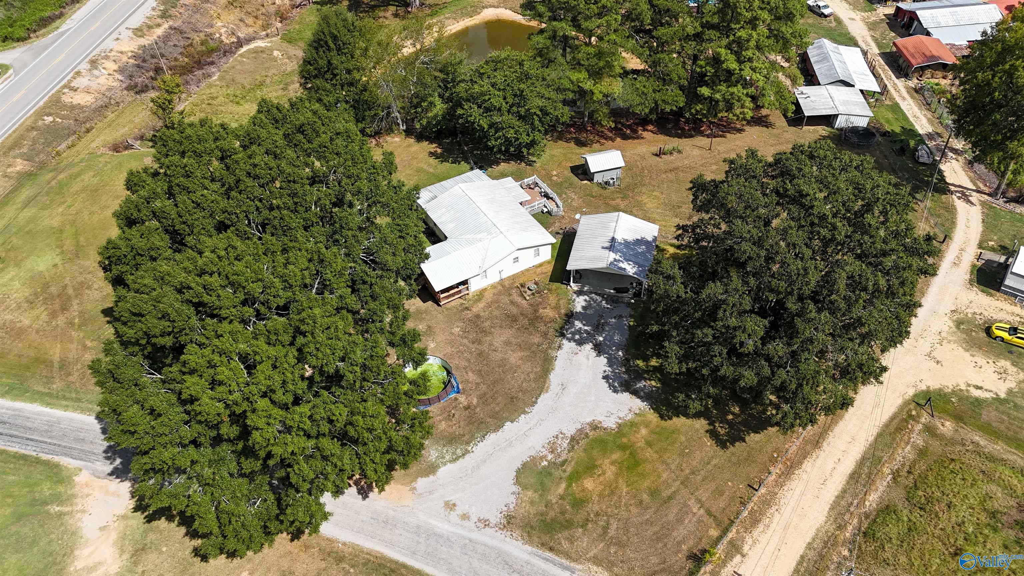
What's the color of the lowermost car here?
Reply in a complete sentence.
The lowermost car looks yellow in the image.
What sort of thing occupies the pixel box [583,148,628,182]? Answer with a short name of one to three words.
shed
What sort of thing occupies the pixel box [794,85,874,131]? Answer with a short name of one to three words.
shed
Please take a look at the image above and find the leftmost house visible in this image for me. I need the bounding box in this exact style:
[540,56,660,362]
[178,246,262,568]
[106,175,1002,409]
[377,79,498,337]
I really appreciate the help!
[412,169,557,308]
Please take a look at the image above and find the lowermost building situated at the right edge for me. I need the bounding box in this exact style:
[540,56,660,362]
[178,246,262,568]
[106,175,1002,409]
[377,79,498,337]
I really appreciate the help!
[995,244,1024,312]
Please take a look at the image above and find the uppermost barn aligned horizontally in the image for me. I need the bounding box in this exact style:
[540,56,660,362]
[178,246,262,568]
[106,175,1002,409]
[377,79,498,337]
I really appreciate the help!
[895,0,1005,40]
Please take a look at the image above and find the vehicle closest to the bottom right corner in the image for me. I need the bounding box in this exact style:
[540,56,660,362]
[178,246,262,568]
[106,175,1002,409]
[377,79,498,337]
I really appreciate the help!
[988,322,1024,348]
